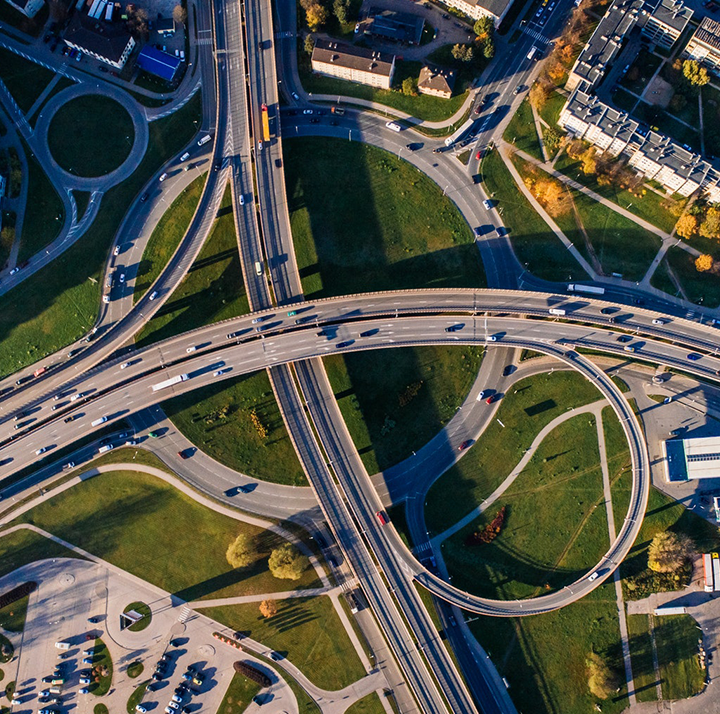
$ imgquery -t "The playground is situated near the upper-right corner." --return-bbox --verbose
[646,79,671,105]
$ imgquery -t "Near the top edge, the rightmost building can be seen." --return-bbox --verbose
[677,15,720,82]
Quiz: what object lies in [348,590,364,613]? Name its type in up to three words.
vehicle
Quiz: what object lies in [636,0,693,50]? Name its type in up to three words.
building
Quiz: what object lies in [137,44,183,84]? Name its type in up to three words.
building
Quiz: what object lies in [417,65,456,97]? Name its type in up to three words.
house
